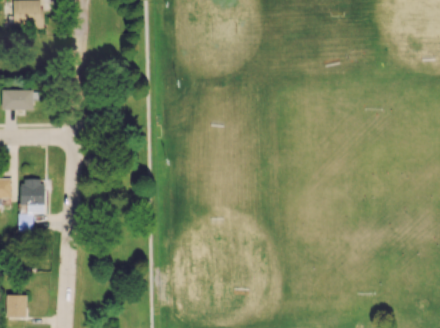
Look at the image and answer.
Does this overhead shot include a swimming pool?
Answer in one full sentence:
No, the photo shows no swimming pool.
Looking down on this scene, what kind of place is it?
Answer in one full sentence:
What you see here is a sports ground.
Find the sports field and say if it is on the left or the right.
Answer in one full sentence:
The sports field appears in the right half of the scene.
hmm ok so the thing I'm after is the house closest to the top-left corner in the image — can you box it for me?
[12,0,44,29]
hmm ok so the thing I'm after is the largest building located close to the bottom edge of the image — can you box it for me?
[6,295,27,317]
